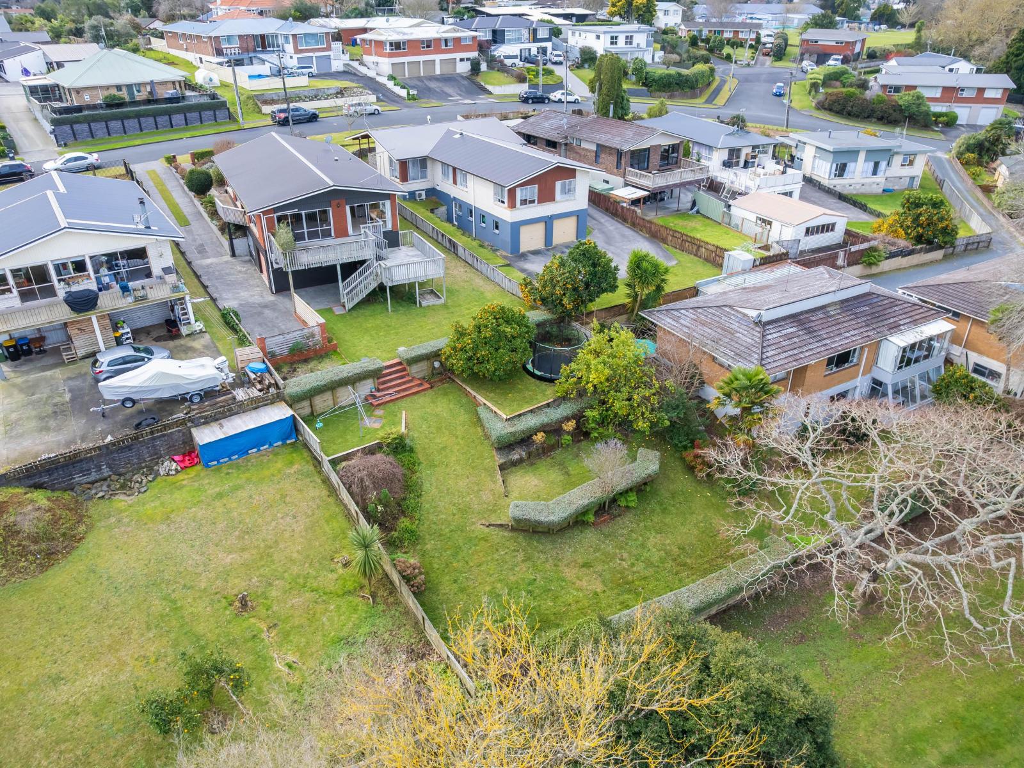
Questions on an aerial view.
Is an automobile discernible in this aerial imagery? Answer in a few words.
Yes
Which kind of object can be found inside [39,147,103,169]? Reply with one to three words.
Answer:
car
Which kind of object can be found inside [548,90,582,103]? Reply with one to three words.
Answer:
vehicle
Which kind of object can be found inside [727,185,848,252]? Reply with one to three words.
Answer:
building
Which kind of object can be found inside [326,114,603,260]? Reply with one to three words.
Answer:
house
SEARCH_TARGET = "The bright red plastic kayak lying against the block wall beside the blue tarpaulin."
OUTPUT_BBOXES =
[159,446,202,465]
